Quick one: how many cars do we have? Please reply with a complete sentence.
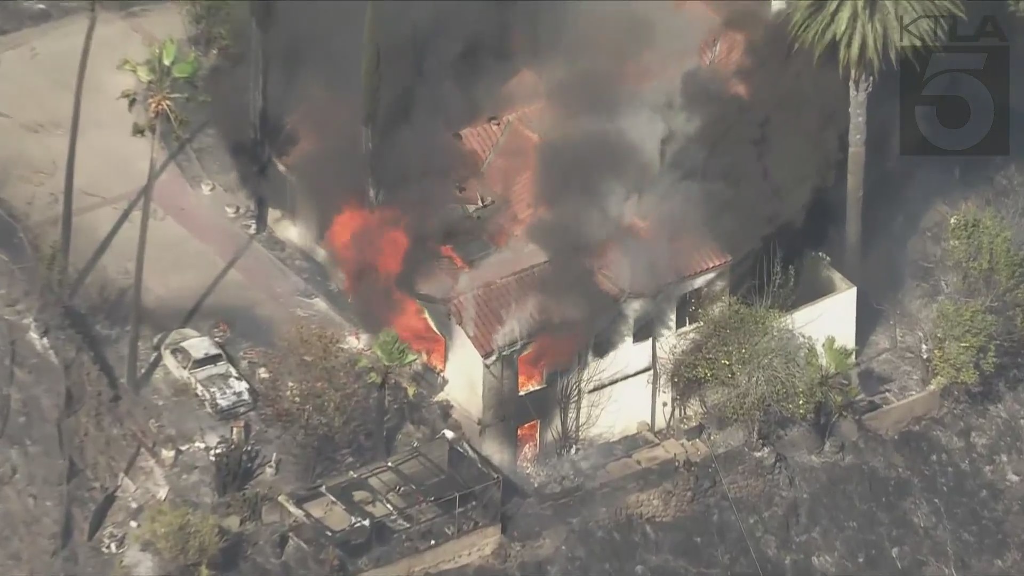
I count 1 car.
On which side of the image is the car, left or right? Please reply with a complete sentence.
You can find the car on the left side of the picture.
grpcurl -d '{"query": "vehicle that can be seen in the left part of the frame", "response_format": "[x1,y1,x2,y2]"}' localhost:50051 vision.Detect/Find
[158,321,256,420]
